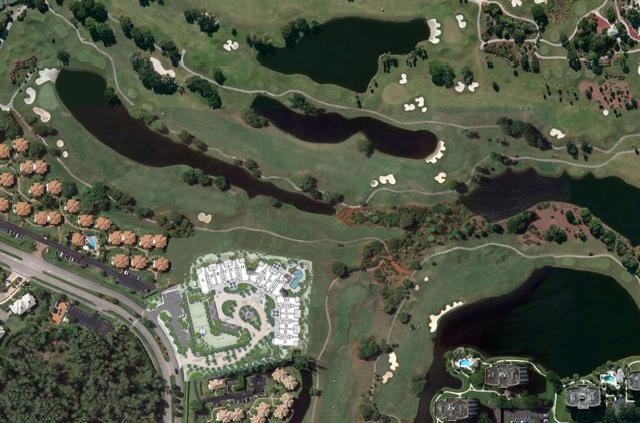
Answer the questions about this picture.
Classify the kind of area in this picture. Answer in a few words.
golf course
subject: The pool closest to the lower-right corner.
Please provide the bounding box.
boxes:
[600,371,618,387]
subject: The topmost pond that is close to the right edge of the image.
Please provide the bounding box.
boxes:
[462,169,640,245]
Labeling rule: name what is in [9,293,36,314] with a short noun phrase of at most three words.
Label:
house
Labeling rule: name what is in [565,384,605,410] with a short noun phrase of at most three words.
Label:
building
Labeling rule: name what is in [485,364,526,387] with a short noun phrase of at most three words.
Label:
building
